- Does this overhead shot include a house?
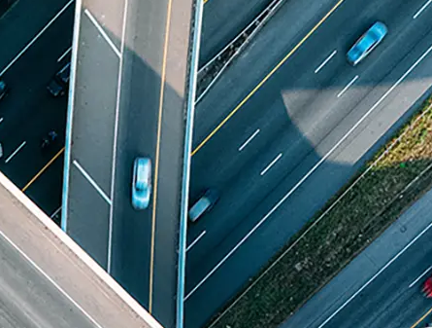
No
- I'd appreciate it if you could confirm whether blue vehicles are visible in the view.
Yes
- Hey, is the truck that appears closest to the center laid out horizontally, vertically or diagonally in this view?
diagonally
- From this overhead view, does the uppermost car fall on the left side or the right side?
right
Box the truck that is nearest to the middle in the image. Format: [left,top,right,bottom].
[186,176,229,226]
